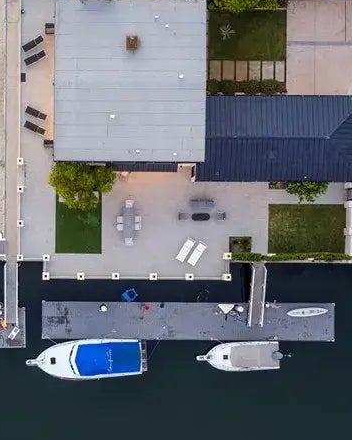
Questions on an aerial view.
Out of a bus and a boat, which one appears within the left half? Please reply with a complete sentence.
You can see a boat within the left half.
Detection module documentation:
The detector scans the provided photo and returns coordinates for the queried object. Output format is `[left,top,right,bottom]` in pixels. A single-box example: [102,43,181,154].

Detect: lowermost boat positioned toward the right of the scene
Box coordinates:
[196,339,292,371]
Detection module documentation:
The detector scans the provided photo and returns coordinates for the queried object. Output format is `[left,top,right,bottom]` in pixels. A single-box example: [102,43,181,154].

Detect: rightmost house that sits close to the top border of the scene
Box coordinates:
[53,0,206,172]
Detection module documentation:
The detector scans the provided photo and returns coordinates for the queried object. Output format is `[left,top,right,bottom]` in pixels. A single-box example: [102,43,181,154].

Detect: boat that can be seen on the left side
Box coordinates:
[25,335,160,381]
